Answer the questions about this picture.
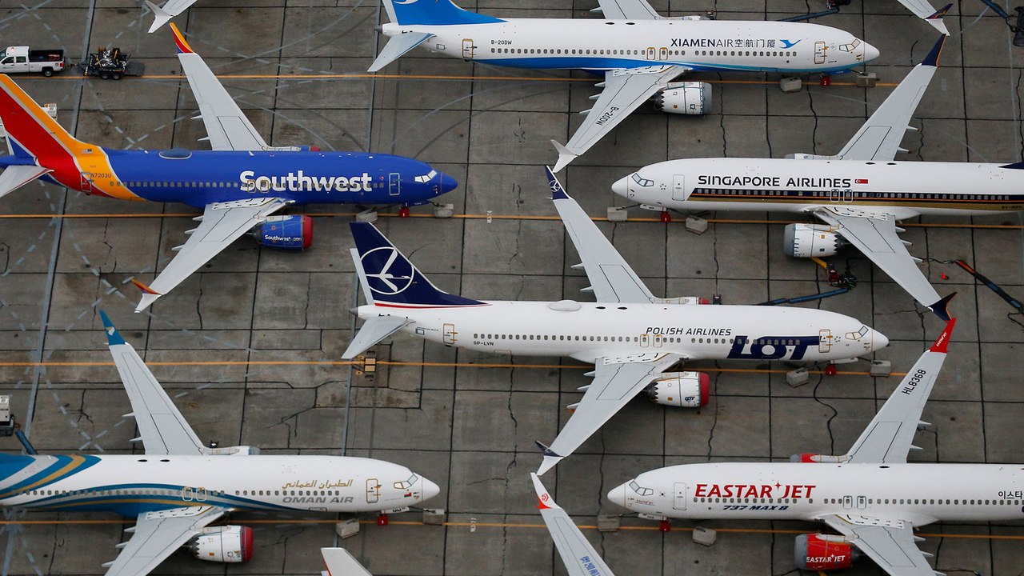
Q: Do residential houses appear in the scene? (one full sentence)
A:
No, I can't see a single residential house in this photo.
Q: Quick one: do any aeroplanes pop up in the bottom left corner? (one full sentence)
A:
Yes, in the bottom left corner there is an aeroplane.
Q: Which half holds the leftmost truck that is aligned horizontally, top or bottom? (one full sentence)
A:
It is in the top half that the leftmost truck that is aligned horizontally appears.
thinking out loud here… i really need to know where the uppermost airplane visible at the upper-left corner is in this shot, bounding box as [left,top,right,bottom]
[148,0,191,28]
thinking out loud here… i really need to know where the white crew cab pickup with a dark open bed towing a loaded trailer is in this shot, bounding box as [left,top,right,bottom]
[0,45,68,77]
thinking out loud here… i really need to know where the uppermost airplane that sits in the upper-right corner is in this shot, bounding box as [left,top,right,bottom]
[902,0,953,35]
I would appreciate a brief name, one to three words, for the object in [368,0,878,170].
airplane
